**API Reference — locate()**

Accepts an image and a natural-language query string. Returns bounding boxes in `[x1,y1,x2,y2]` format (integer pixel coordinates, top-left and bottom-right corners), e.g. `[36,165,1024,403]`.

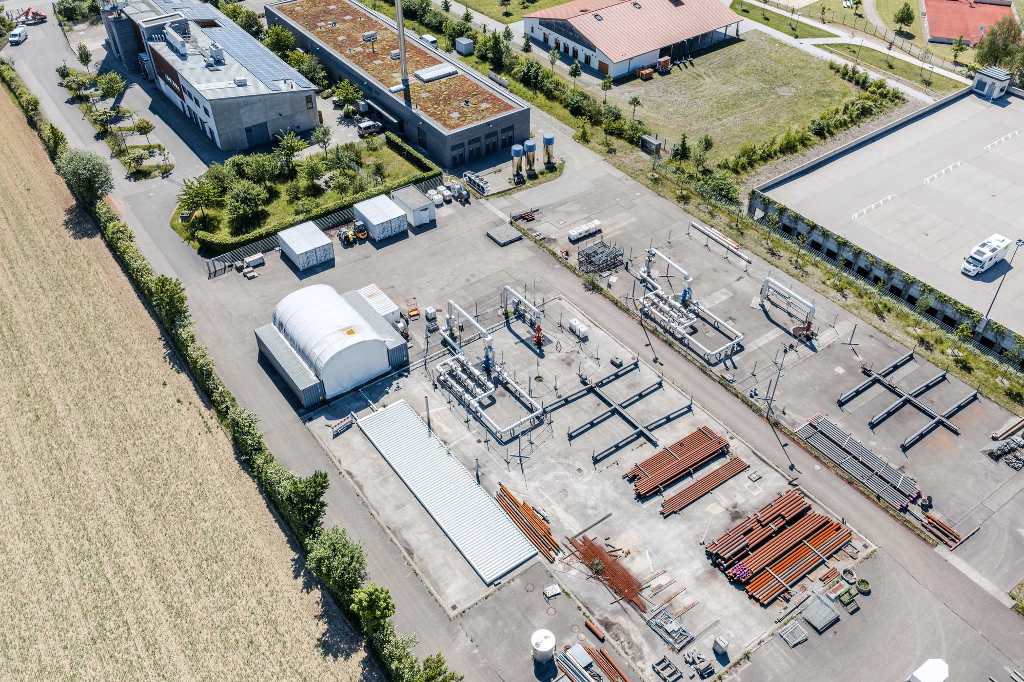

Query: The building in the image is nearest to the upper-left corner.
[84,0,321,151]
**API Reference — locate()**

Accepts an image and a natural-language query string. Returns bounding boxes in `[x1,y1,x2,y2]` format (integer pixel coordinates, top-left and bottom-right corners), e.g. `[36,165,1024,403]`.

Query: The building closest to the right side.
[973,66,1016,99]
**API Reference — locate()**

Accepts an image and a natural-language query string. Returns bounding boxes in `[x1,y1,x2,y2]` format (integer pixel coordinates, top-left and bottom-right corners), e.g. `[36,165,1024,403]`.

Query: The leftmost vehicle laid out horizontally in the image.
[4,8,47,24]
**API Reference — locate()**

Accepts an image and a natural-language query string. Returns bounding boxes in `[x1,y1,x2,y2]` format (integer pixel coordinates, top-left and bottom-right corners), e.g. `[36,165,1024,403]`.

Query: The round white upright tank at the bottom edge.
[528,627,559,668]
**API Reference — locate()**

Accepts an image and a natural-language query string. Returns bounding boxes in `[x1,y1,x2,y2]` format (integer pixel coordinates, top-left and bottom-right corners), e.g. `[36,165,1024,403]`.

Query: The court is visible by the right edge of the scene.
[927,0,1023,45]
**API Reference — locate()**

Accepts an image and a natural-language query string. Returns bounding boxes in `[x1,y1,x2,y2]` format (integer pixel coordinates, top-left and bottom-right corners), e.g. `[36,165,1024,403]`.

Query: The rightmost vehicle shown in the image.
[959,233,1014,276]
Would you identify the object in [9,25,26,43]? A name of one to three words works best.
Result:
vehicle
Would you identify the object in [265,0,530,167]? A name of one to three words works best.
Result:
building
